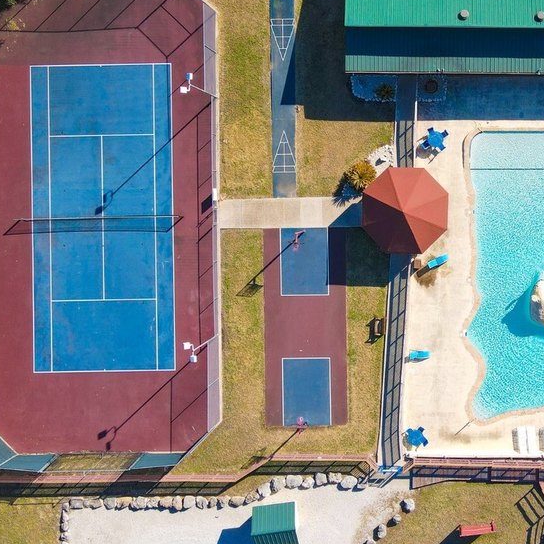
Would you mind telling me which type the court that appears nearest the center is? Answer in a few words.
basketball court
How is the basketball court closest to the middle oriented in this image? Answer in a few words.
vertically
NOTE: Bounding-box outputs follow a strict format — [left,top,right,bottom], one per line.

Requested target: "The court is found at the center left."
[0,0,223,456]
